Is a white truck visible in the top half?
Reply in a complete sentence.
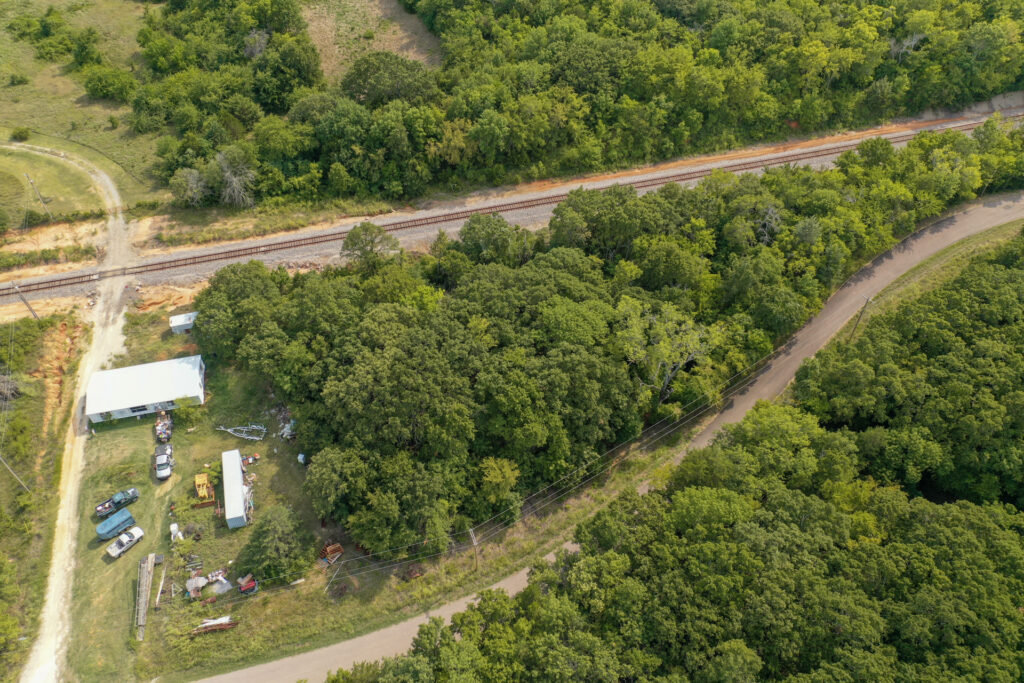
No, no white truck can be made out in the top half.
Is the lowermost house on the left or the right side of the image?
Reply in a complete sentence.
The lowermost house is on the left side of the image.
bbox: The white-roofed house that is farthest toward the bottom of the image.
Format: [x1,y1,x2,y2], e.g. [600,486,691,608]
[84,350,215,423]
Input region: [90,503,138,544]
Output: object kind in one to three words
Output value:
trailer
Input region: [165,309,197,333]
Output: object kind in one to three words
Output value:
shed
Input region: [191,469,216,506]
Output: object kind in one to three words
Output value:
work vehicle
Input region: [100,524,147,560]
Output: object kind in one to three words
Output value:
truck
